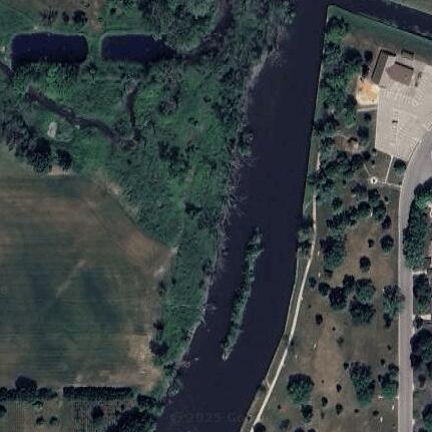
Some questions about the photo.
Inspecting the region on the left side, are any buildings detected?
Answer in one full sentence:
No, looking on the left side, there is no building.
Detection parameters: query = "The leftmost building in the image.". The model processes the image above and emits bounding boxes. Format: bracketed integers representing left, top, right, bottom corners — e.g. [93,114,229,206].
[370,48,391,81]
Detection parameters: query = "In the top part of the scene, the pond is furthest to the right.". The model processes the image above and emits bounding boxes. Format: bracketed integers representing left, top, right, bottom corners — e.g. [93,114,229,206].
[101,35,183,62]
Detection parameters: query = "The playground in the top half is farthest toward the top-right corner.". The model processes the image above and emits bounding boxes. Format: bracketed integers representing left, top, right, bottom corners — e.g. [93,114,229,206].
[357,79,378,105]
